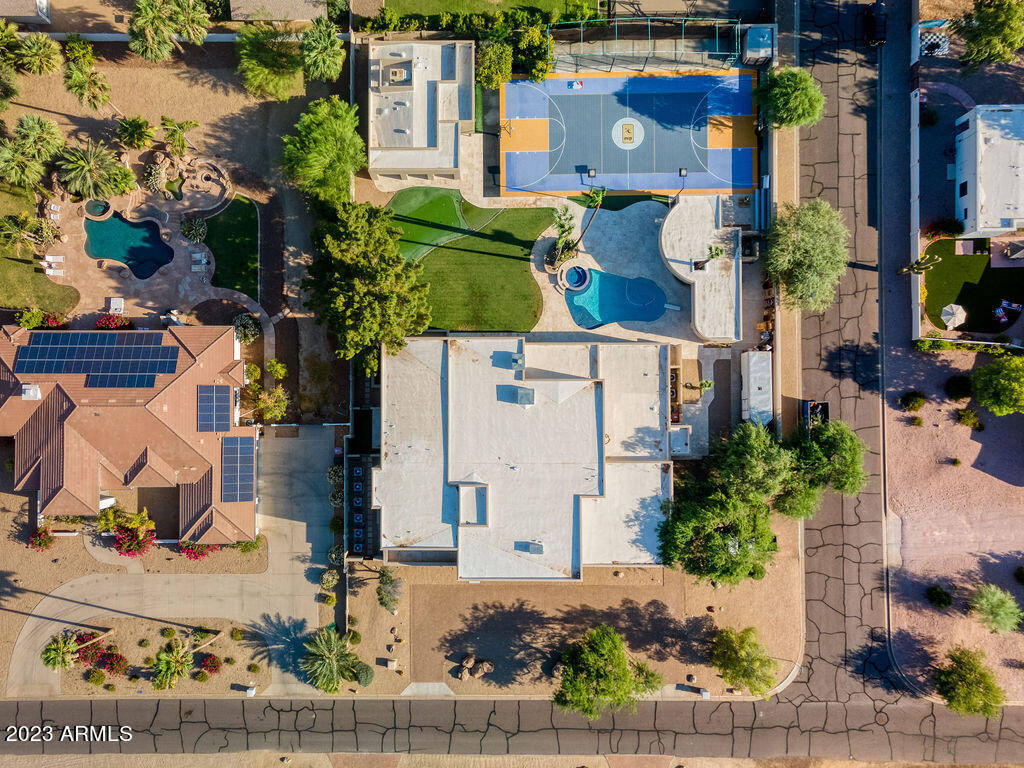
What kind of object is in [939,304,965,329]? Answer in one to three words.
umbrella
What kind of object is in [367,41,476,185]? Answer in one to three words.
house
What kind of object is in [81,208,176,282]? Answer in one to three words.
swimming pool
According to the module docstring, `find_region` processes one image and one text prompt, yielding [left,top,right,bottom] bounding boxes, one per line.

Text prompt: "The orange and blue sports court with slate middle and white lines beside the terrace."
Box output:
[500,71,757,197]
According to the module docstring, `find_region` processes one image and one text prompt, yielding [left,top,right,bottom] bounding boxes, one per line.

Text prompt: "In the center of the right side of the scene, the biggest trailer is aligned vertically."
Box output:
[739,351,774,429]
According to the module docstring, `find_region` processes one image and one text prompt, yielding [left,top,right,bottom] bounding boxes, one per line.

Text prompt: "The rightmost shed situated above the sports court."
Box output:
[743,29,773,65]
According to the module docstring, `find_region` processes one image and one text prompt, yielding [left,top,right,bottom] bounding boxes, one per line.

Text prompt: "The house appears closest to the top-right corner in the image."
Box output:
[954,105,1024,236]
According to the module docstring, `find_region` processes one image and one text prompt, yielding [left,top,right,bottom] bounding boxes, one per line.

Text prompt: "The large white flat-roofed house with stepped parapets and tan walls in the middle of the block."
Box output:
[371,337,691,585]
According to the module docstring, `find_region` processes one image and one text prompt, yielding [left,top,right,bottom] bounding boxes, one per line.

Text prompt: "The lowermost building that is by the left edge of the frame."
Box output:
[0,325,261,545]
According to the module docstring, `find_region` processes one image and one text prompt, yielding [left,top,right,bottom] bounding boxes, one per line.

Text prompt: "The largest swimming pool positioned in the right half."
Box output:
[563,267,670,332]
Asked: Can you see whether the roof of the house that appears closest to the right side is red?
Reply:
No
